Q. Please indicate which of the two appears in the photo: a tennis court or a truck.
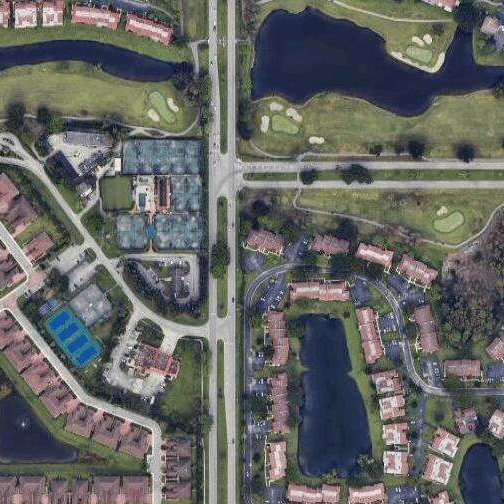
tennis court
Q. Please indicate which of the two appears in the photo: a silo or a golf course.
golf course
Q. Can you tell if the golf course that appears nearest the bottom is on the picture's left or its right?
right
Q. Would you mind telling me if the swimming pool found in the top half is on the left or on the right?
left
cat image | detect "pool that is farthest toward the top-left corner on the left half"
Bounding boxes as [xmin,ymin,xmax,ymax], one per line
[135,176,154,213]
